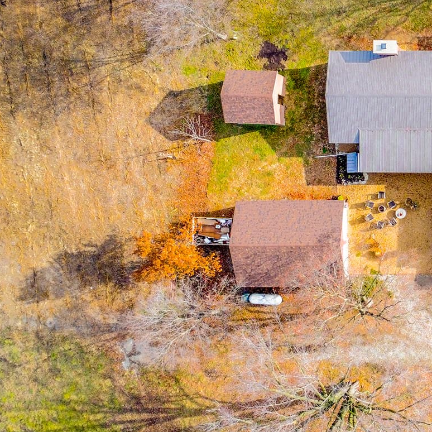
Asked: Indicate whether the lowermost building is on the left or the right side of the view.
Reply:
right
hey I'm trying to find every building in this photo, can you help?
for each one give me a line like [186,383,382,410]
[325,41,432,174]
[221,72,283,124]
[228,200,347,287]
